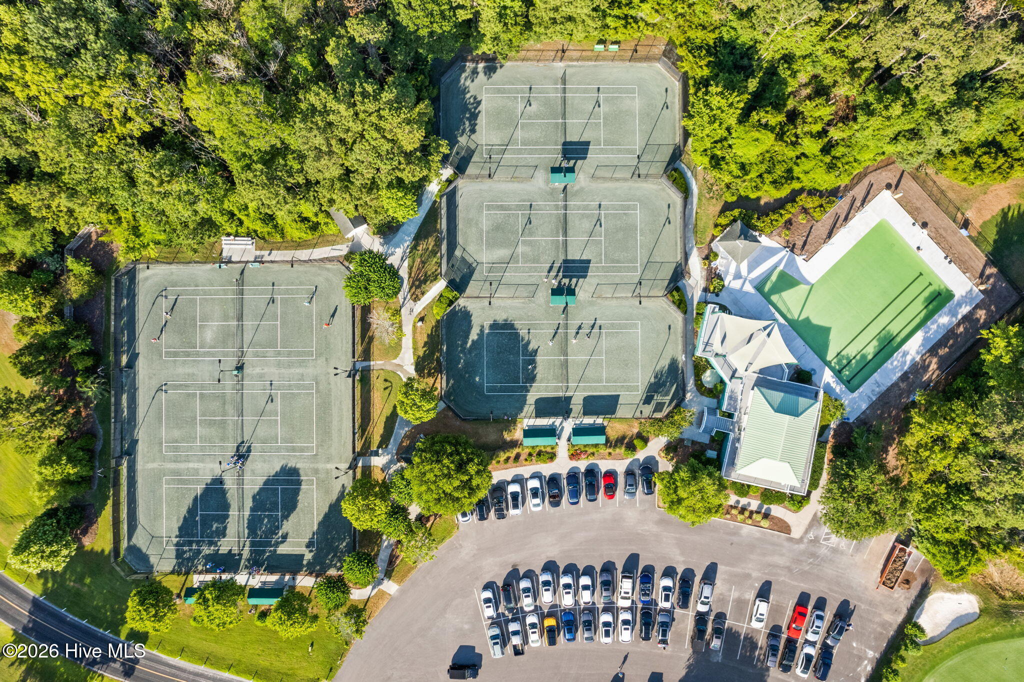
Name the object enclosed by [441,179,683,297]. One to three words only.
tennis court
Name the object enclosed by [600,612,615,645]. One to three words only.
car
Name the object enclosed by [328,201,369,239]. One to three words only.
shed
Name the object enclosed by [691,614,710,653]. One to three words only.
vehicle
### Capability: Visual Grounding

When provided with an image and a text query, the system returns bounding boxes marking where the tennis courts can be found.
[125,262,354,370]
[443,297,685,419]
[125,465,353,572]
[125,370,352,465]
[441,179,683,297]
[441,63,681,179]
